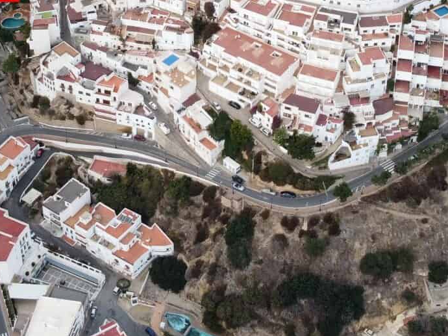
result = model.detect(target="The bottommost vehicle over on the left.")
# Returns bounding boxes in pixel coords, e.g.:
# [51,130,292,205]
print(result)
[144,323,157,336]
